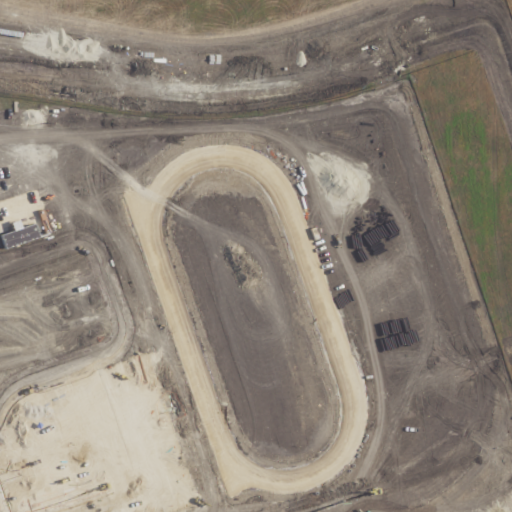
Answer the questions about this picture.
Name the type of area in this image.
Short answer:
sports ground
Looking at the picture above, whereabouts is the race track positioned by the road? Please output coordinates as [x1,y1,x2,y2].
[124,144,368,496]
